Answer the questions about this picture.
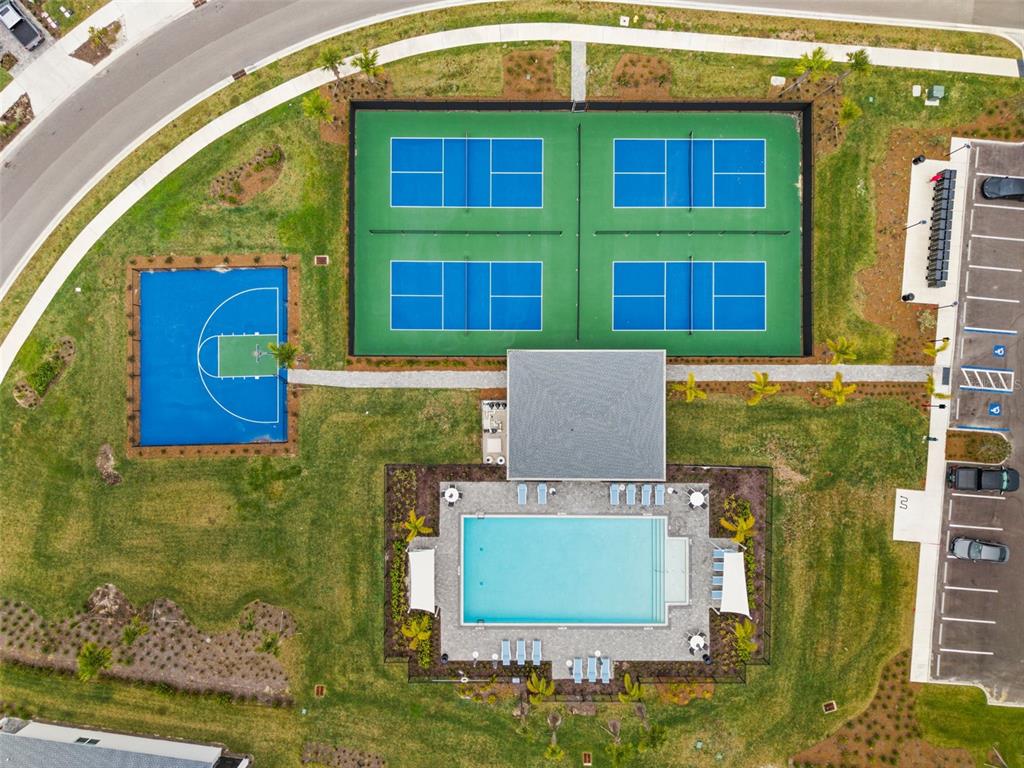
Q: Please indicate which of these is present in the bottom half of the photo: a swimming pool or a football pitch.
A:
swimming pool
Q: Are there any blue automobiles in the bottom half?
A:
No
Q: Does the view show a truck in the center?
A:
No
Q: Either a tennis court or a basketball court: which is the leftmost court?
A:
basketball court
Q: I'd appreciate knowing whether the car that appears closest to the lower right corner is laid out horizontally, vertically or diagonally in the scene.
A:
horizontally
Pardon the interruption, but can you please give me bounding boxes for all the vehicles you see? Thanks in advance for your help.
[946,466,1020,494]
[0,0,48,53]
[949,536,1010,563]
[980,174,1024,202]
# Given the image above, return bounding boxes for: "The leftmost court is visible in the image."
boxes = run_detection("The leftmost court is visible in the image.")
[140,267,287,446]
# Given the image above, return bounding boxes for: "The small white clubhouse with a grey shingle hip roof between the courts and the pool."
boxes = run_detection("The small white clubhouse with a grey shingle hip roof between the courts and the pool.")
[507,349,667,481]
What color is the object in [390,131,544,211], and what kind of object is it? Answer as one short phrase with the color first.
blue sports court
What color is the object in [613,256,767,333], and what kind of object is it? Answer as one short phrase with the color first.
blue sports court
